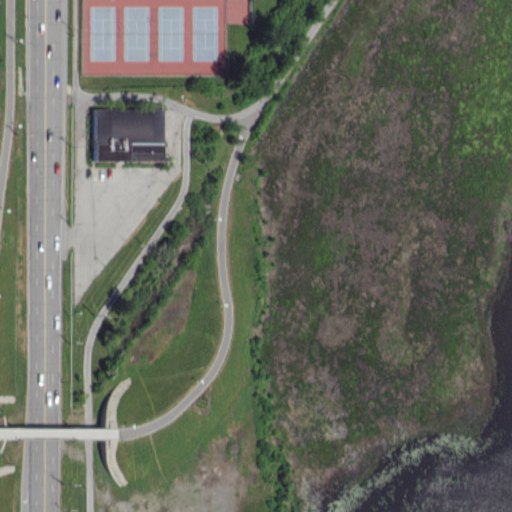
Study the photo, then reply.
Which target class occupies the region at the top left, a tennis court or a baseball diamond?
tennis court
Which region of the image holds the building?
top left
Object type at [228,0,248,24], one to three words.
sports court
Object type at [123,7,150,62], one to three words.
tennis court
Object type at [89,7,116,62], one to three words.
tennis court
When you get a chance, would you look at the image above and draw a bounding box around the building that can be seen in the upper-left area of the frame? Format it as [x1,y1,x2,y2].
[93,110,166,163]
